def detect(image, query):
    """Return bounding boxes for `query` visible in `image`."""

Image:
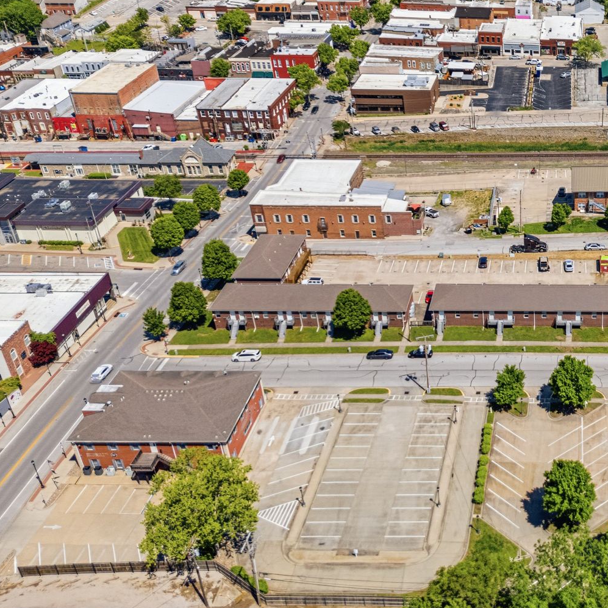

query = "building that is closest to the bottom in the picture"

[69,371,264,481]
